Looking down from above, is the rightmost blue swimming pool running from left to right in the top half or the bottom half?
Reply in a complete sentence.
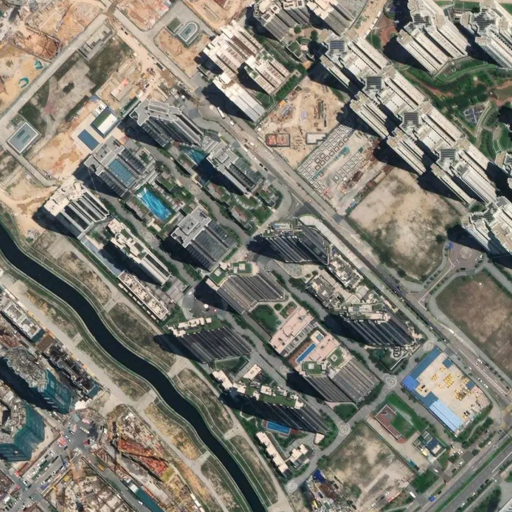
The rightmost blue swimming pool running from left to right is in the bottom half of the image.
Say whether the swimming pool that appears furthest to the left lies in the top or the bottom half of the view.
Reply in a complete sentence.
The swimming pool that appears furthest to the left sits in the top half of the picture.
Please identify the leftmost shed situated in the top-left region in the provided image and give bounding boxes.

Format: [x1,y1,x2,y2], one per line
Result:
[8,124,42,154]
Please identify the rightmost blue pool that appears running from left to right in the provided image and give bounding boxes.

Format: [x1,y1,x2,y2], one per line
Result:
[263,418,294,437]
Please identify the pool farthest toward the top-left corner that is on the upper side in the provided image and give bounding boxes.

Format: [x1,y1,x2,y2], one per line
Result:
[74,126,102,153]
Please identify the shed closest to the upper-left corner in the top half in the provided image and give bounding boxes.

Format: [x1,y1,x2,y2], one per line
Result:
[78,24,112,61]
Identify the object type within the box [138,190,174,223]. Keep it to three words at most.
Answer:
swimming pool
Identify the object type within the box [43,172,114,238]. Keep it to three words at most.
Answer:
building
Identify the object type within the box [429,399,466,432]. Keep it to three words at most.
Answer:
shed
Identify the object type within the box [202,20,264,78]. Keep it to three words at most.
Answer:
building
